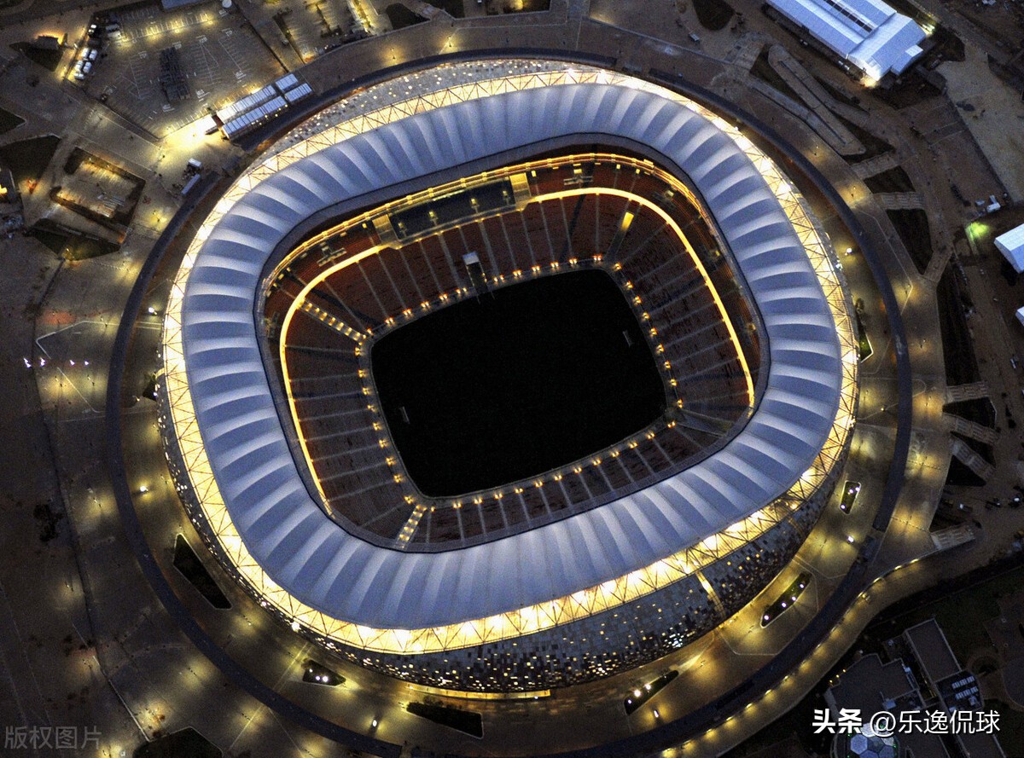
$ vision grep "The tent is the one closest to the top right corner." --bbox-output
[990,223,1024,276]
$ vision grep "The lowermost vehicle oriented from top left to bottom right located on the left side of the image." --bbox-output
[186,154,202,167]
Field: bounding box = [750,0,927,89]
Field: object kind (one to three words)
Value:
building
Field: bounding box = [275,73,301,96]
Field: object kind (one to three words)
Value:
tent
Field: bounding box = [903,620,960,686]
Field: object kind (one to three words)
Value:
building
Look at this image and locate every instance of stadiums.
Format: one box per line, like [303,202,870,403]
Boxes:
[158,63,866,700]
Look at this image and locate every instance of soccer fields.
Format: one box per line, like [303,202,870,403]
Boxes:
[356,257,681,510]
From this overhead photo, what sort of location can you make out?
sports ground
